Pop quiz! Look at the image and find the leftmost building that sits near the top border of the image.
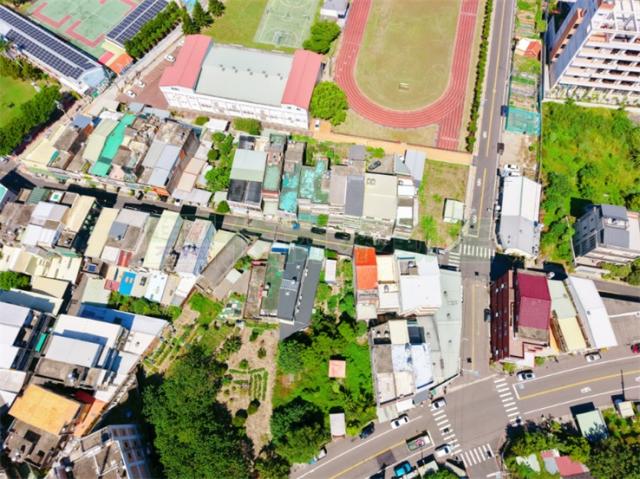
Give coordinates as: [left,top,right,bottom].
[0,0,104,91]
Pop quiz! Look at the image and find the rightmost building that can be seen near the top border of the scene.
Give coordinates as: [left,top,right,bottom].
[542,0,640,104]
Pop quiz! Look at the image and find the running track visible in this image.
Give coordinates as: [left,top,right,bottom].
[337,0,478,148]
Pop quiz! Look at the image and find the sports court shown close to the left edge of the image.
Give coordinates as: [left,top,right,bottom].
[24,0,130,64]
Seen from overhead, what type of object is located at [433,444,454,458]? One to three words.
vehicle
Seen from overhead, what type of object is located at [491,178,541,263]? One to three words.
building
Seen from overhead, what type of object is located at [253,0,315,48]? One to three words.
basketball court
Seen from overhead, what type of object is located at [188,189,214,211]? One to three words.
house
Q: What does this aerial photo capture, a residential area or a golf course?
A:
residential area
